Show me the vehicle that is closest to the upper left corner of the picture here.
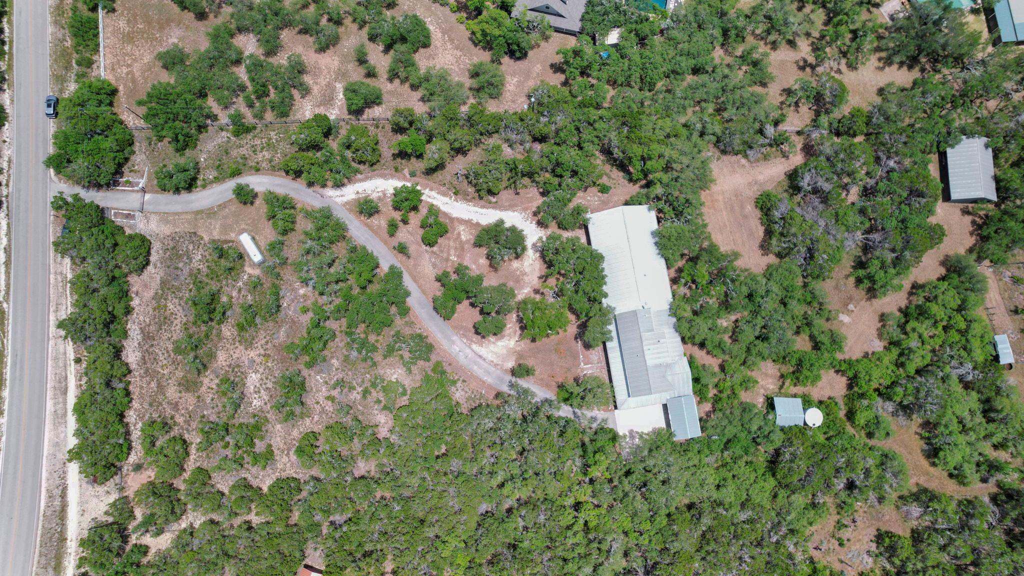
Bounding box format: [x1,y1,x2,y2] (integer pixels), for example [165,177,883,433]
[44,96,59,118]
